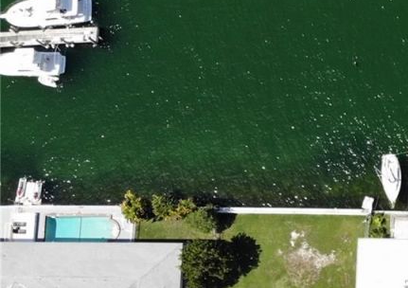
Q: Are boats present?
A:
Yes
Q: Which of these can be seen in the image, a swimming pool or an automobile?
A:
swimming pool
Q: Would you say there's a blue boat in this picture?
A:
No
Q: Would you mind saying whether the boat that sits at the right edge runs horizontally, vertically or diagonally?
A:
vertically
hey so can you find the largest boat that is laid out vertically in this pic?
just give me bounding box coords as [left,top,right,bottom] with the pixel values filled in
[374,155,401,210]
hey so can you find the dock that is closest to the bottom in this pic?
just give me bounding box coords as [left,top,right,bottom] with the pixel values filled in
[15,178,44,206]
